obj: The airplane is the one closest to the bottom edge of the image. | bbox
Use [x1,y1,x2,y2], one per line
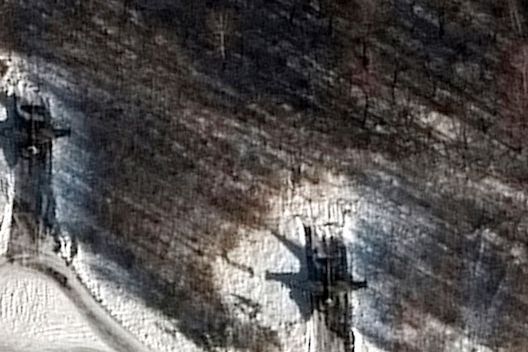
[287,249,368,320]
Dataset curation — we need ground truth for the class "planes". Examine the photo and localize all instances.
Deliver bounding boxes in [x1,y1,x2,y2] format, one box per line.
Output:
[0,96,74,170]
[287,249,368,320]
